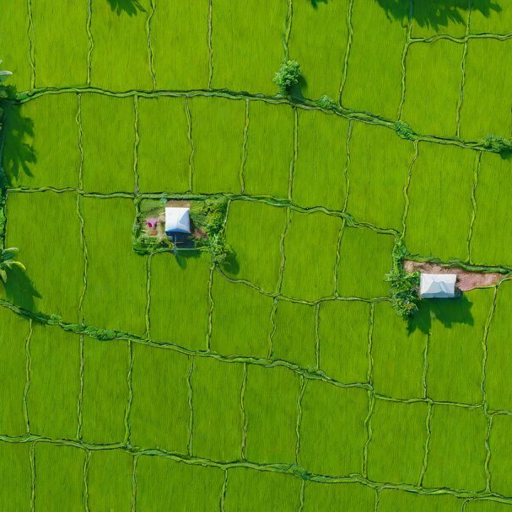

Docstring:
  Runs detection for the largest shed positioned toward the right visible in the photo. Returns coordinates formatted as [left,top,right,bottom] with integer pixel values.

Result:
[417,274,456,300]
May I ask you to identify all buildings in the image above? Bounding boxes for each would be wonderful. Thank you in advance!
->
[165,208,191,236]
[417,274,456,300]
